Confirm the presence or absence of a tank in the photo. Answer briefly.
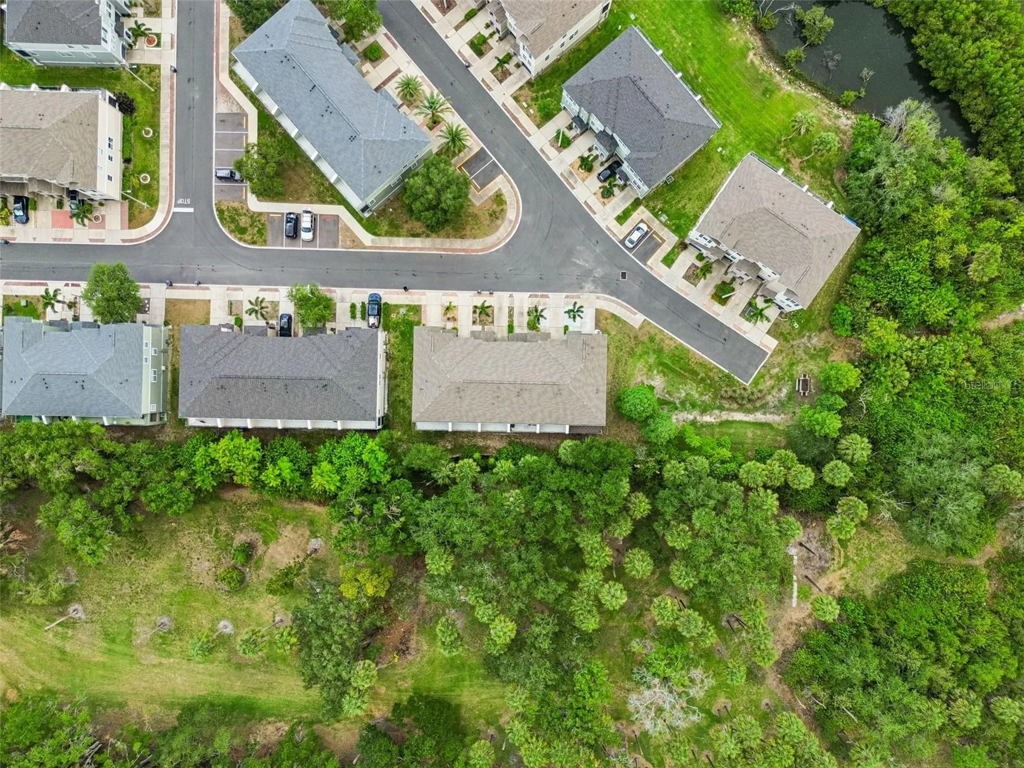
No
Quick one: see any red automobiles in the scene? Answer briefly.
No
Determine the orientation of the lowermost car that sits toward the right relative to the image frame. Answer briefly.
diagonally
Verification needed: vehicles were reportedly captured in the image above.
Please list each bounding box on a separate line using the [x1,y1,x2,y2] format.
[214,168,236,183]
[366,293,382,330]
[623,222,650,250]
[14,199,31,225]
[278,308,294,337]
[299,207,316,242]
[594,157,620,183]
[283,210,299,242]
